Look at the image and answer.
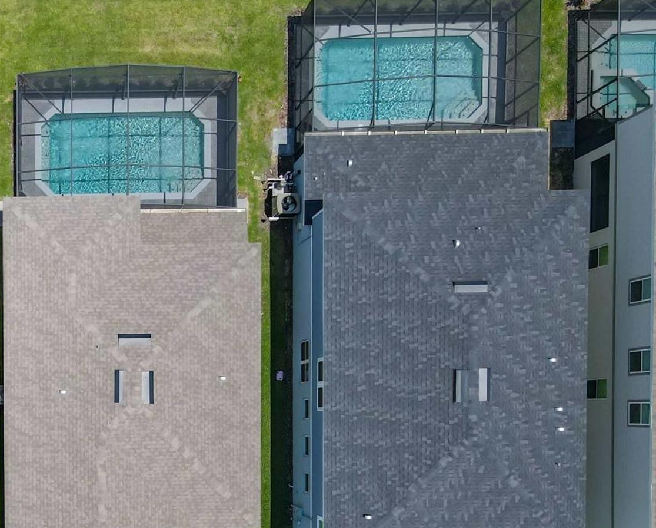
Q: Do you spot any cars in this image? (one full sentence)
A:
No, the picture doesn't show any car.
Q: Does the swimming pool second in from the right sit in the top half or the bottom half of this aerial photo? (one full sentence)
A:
The top half of the photo is where the swimming pool second in from the right is.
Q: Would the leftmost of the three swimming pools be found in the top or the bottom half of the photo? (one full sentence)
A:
The leftmost of the three swimming pools sits in the top half of the picture.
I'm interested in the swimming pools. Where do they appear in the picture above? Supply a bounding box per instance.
[589,21,656,127]
[316,24,491,125]
[33,99,213,200]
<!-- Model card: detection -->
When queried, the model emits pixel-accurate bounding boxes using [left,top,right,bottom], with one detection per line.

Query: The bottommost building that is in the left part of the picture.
[1,194,262,528]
